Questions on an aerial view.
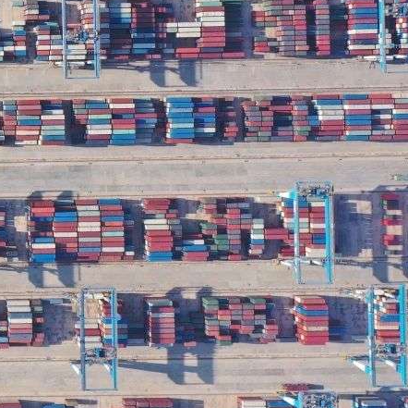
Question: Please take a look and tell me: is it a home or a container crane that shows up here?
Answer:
container crane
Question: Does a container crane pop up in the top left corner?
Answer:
Yes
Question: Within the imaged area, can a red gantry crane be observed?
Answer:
No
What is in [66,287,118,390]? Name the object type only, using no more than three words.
container crane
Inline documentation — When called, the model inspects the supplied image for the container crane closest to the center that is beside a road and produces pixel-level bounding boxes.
[273,179,334,284]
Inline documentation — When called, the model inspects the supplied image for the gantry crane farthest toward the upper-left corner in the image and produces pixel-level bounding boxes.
[49,0,99,79]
